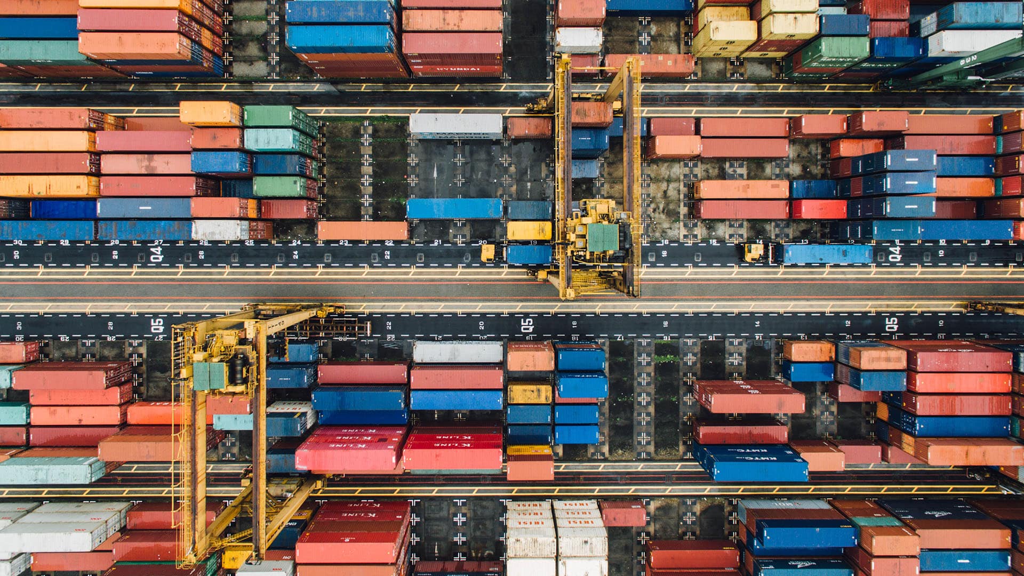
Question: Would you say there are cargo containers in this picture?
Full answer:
Yes, a cargo container appears in the view.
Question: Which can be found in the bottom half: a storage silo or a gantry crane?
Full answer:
There is a gantry crane in the bottom half.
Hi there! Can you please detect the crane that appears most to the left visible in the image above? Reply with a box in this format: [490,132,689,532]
[172,299,345,561]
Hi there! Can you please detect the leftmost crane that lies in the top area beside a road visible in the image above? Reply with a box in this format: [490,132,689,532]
[524,54,646,303]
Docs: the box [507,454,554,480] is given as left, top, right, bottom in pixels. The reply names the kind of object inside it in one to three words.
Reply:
shipping container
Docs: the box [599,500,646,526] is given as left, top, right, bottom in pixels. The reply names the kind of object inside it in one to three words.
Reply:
shipping container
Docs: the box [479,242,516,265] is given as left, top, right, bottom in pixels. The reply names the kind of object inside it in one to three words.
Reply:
work vehicle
